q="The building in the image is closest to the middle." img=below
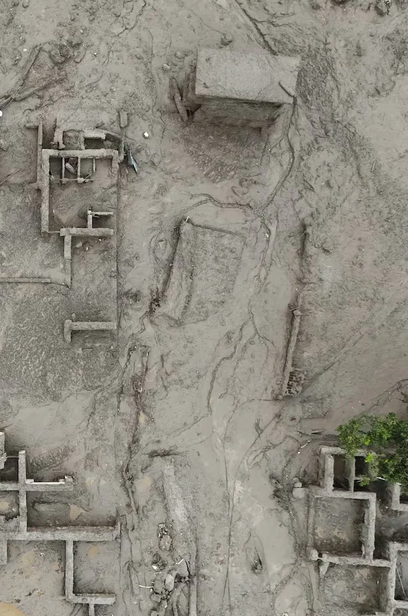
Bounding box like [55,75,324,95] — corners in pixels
[63,320,116,342]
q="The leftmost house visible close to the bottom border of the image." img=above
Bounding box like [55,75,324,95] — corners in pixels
[0,447,119,616]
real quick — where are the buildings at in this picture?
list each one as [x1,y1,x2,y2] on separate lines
[0,447,119,616]
[0,123,125,288]
[63,320,116,342]
[302,444,408,616]
[180,47,301,132]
